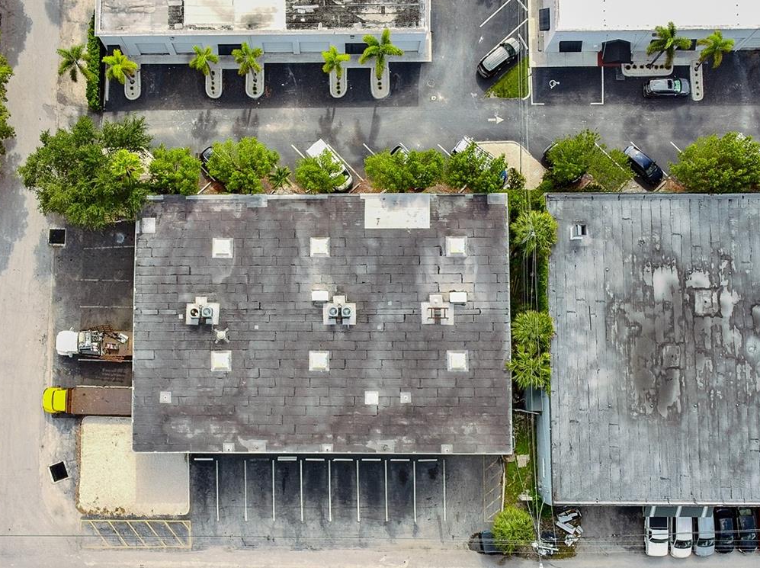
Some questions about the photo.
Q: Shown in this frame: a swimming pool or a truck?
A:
truck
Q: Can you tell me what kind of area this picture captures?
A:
industrial area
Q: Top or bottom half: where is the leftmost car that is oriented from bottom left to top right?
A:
top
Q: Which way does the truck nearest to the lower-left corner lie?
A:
from side to side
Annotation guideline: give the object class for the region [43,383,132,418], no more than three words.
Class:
truck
